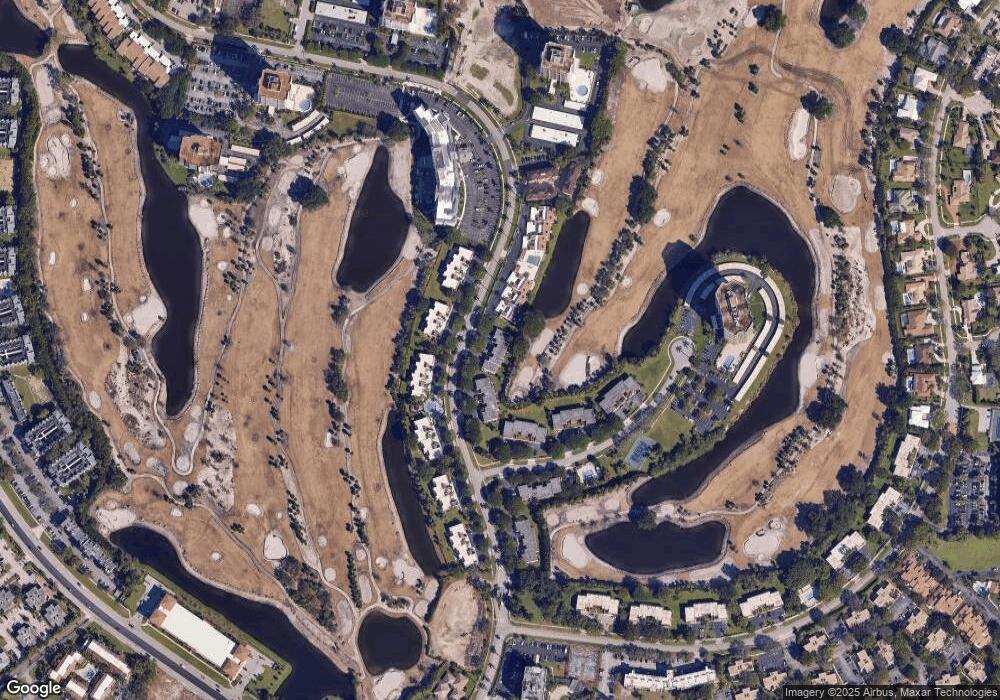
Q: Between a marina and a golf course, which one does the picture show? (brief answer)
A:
golf course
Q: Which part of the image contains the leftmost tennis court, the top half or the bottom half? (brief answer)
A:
bottom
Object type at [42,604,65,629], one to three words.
house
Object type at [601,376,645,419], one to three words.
building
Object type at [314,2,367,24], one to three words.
building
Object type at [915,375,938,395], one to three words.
house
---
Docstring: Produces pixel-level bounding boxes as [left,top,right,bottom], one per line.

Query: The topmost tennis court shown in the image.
[623,432,657,469]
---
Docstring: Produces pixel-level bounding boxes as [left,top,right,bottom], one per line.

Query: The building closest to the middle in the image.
[481,330,509,375]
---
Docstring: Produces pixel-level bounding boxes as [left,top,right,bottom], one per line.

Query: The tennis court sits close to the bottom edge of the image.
[569,644,601,679]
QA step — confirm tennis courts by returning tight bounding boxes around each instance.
[569,644,601,679]
[623,432,657,469]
